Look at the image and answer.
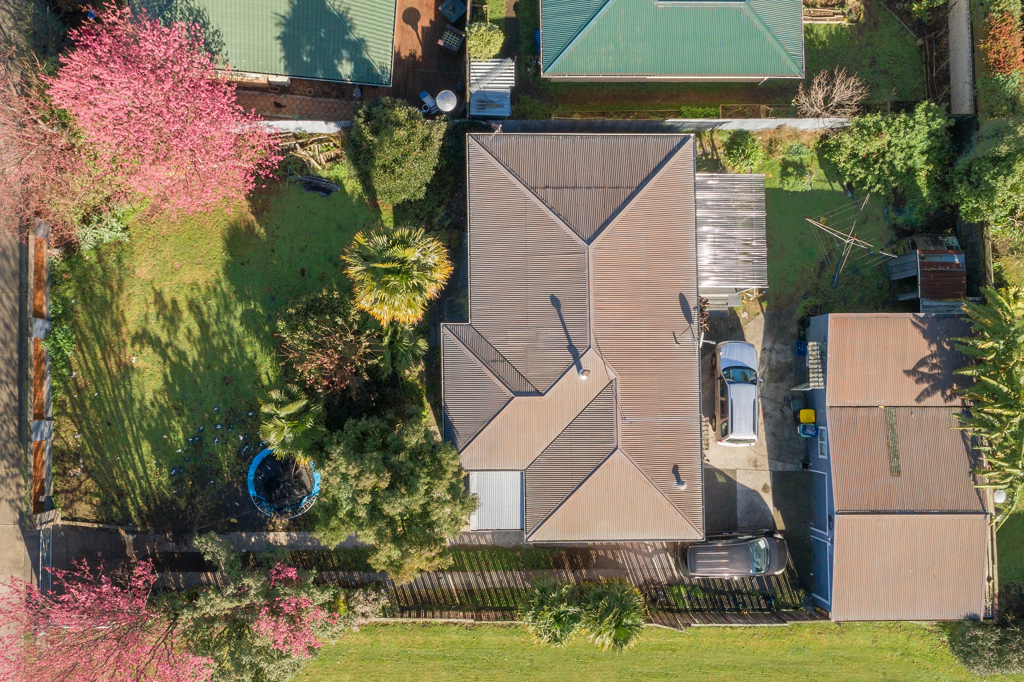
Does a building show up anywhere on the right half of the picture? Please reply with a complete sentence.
Yes, the scene does show a building on the right half of the picture.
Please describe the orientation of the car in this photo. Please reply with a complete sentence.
In this picture, the car lies from top to bottom.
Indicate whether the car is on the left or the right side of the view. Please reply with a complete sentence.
The car sits on the right side.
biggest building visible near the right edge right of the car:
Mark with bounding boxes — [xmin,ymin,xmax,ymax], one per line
[792,314,987,622]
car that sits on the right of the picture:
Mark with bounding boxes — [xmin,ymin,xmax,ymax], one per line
[711,341,761,449]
